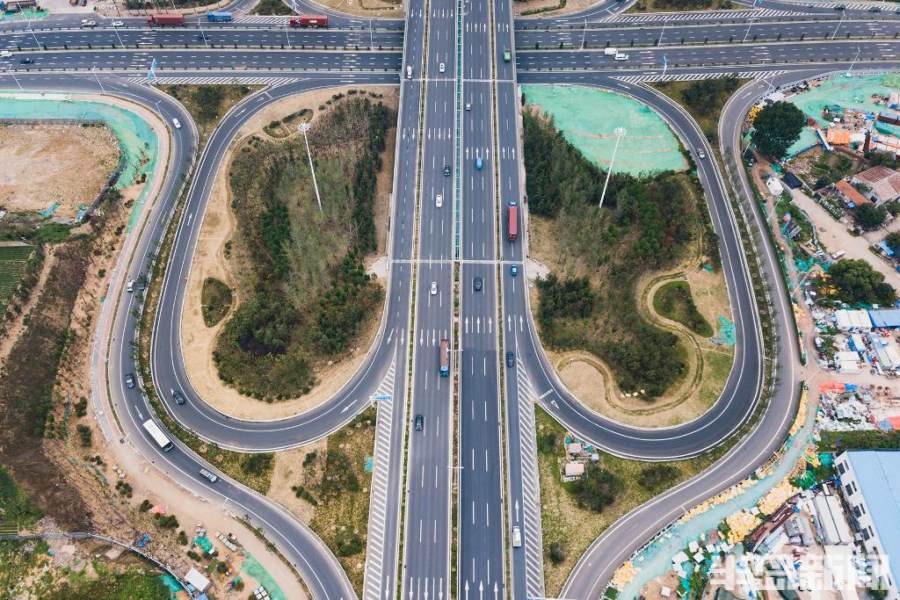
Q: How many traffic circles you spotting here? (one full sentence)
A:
There are no traffic circles in this view.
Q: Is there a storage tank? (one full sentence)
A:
No, there appears to be no storage tank in this shot.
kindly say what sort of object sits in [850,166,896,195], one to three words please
house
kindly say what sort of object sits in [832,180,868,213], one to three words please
house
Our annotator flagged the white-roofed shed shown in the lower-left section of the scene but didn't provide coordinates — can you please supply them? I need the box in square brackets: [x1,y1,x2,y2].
[185,567,212,592]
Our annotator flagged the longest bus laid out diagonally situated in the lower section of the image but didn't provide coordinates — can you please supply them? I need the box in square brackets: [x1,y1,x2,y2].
[143,416,171,452]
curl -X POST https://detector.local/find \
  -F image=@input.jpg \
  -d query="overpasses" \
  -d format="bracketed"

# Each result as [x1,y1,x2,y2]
[364,0,549,287]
